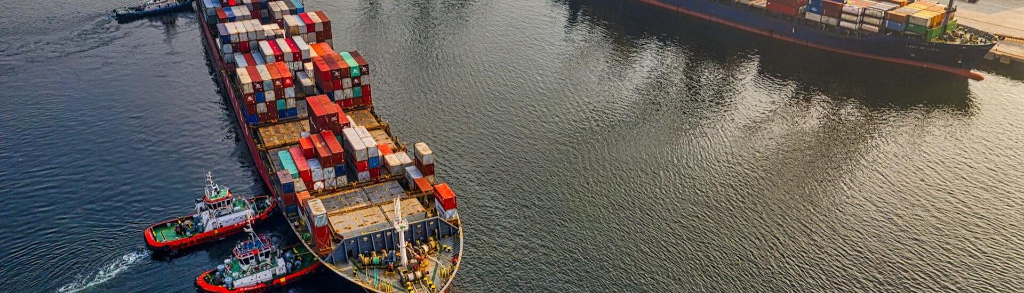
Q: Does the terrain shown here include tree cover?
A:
No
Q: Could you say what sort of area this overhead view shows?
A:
port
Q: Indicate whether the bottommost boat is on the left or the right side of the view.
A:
left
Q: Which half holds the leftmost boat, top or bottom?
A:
top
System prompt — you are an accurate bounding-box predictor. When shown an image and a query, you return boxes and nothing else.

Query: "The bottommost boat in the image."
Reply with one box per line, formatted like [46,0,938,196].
[190,216,339,293]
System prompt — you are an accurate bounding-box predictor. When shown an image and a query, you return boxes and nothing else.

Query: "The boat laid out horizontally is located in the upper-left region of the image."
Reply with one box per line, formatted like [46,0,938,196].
[114,0,193,20]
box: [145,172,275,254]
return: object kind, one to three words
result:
boat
